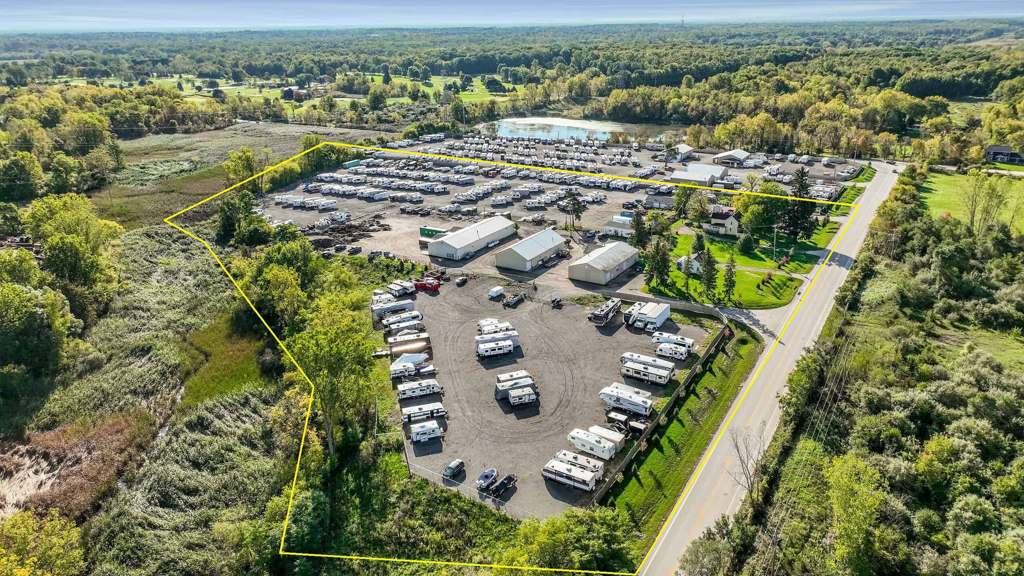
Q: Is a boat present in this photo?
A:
Yes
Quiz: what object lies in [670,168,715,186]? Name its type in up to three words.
building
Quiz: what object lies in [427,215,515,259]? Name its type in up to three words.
shed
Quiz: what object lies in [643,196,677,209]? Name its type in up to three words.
building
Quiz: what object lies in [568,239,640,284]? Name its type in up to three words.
shed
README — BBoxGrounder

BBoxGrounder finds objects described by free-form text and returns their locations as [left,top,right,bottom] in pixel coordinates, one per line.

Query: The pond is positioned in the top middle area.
[479,117,691,141]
